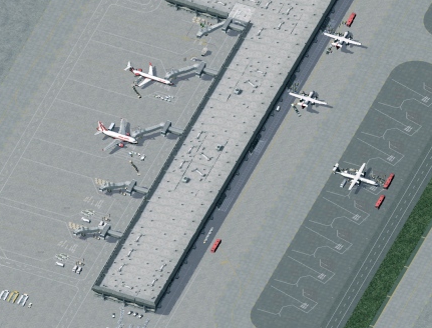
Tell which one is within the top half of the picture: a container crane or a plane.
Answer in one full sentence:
You can see a plane within the top half of the picture.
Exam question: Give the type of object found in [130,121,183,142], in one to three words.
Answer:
jet bridge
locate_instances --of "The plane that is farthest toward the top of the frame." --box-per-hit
[323,32,358,55]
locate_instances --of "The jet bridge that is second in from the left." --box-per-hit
[98,180,149,201]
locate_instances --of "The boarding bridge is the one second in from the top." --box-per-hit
[164,61,215,82]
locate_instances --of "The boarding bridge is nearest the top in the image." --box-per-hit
[196,16,246,40]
